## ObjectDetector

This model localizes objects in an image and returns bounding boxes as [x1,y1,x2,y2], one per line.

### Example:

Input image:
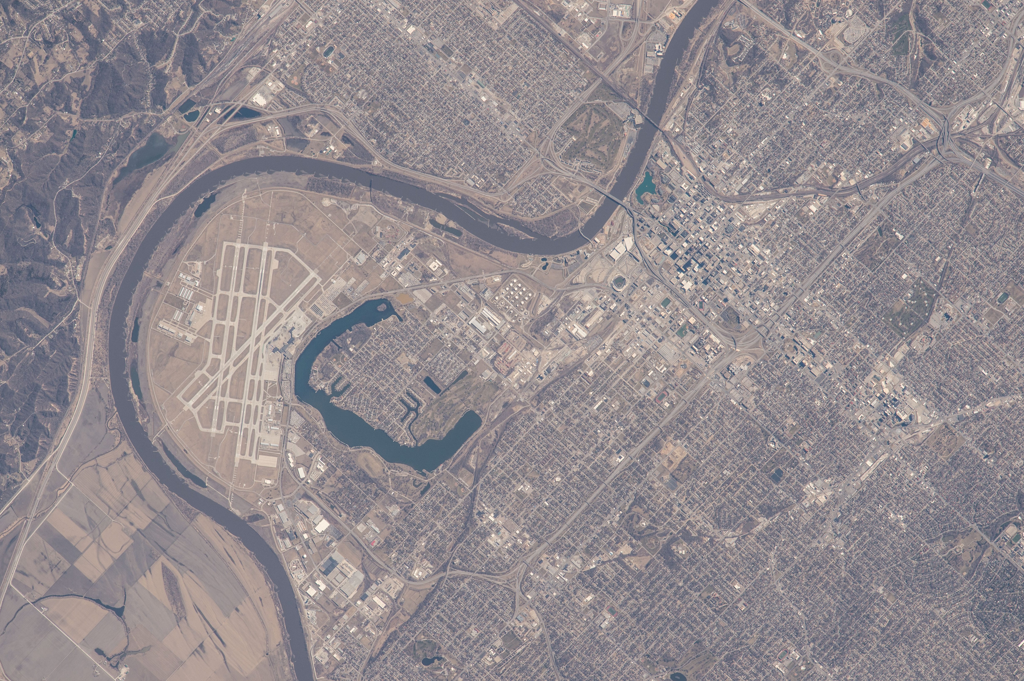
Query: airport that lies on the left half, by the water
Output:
[152,189,330,508]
